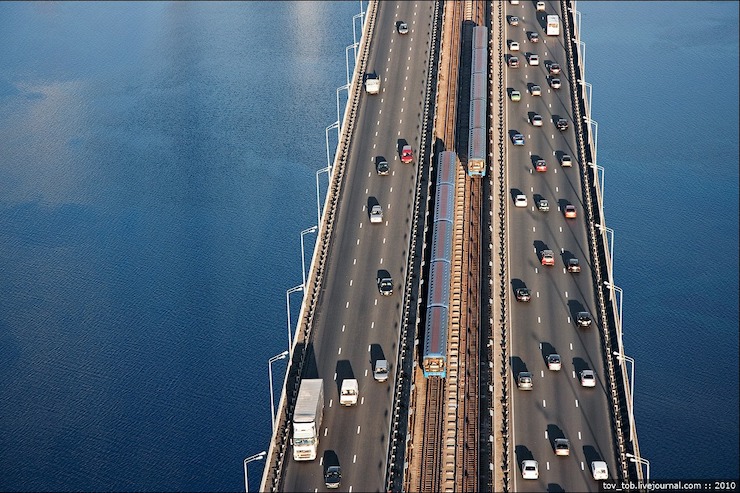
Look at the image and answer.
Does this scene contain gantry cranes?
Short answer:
No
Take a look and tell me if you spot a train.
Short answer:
Yes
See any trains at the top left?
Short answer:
No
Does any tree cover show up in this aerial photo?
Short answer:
No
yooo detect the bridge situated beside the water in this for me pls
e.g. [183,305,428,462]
[261,0,645,493]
